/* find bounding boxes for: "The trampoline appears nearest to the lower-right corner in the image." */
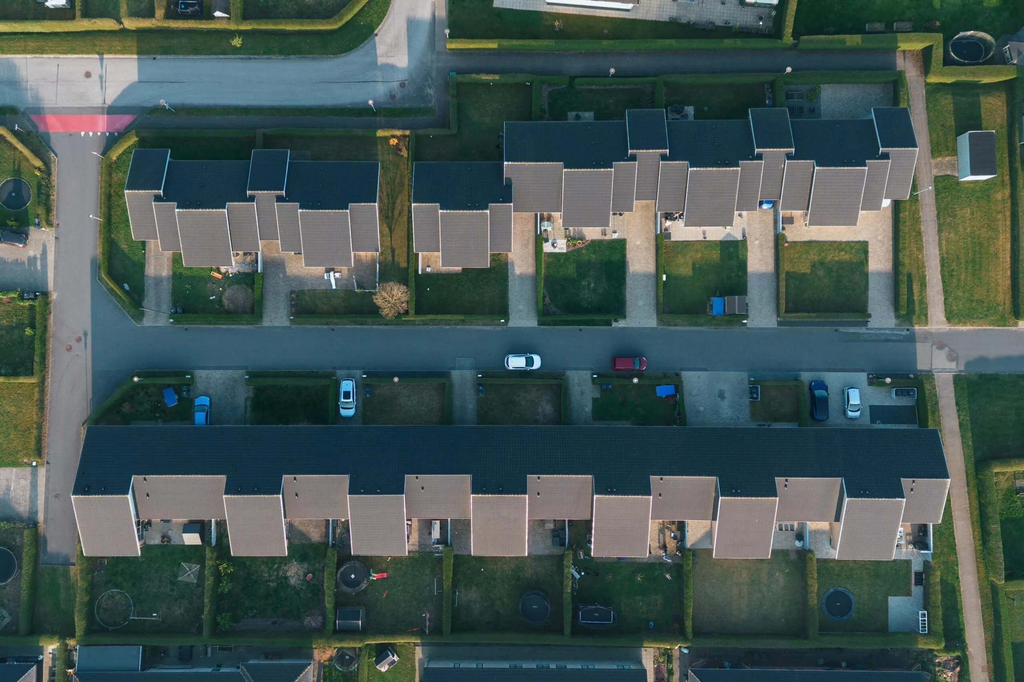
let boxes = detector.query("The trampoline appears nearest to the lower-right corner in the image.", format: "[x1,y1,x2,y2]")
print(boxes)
[822,588,855,622]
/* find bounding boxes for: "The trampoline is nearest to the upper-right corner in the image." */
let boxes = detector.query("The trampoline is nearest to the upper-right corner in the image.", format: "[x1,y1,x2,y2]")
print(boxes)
[947,28,993,67]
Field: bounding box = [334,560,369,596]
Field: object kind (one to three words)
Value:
trampoline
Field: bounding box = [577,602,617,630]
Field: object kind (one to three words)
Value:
trampoline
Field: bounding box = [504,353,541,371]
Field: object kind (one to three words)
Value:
car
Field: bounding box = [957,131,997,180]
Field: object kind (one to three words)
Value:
shed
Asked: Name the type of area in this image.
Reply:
residential area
